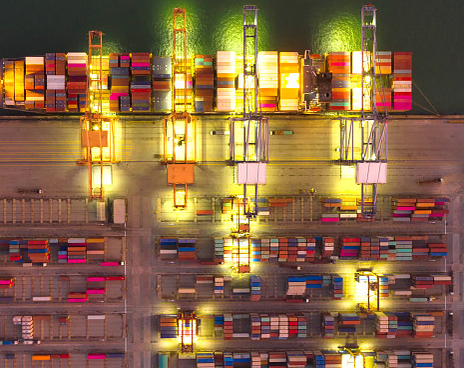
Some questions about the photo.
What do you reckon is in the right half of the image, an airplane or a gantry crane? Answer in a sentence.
What appears in the right half of the image is a gantry crane.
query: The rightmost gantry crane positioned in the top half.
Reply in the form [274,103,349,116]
[334,5,392,218]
